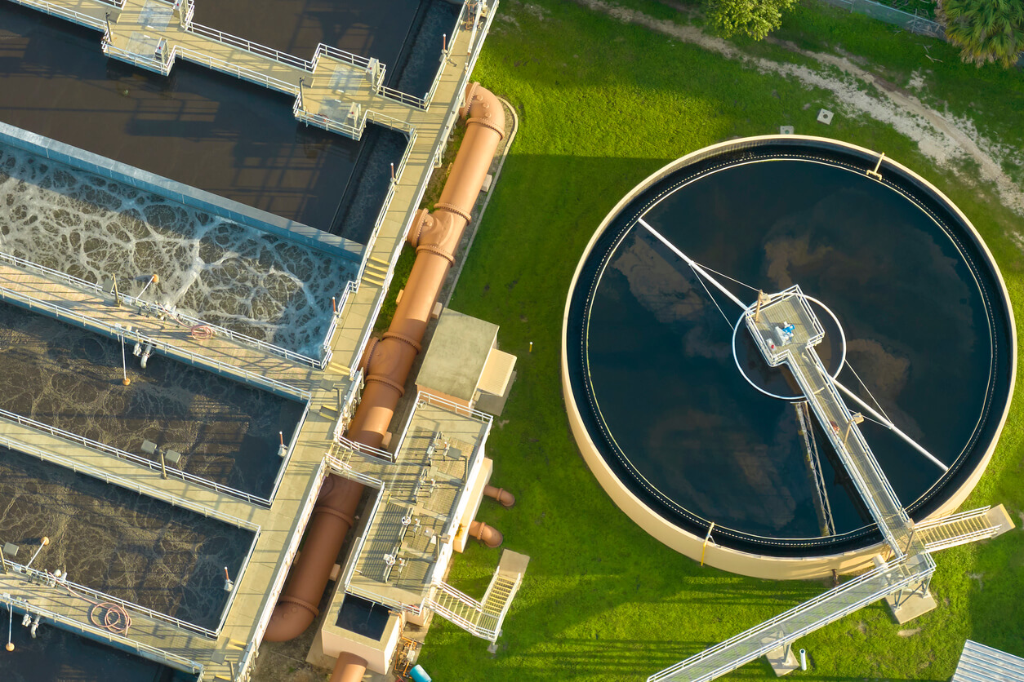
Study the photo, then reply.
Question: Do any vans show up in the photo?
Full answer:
No, no van can be seen from above.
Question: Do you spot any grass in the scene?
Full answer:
Yes, some grass is visible.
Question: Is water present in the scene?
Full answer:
Yes, the picture does contain water.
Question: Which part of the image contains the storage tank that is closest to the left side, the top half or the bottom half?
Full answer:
The storage tank that is closest to the left side is in the bottom half of the image.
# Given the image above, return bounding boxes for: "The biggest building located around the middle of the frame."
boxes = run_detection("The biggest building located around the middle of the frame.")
[416,308,517,418]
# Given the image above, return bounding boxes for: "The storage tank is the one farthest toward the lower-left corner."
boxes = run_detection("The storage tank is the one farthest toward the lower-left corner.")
[322,535,400,682]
